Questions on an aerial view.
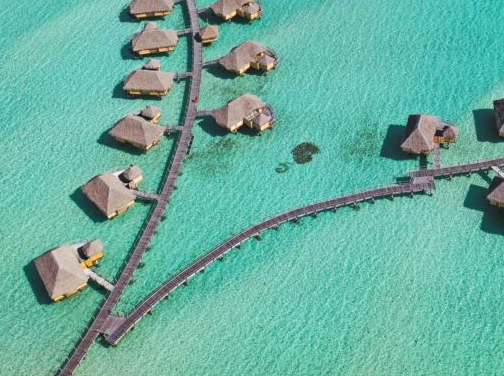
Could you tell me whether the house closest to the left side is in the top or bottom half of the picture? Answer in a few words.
bottom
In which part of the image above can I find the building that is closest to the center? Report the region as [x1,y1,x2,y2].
[214,95,277,143]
